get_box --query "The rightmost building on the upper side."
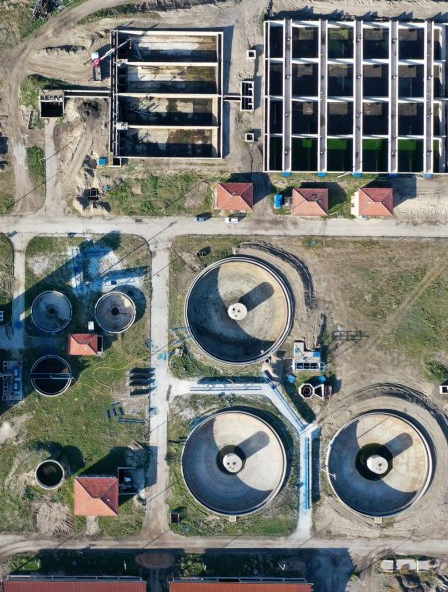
[357,189,392,216]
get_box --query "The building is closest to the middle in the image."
[218,183,253,211]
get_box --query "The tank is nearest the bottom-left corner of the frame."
[34,459,64,490]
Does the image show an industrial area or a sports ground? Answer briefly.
industrial area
